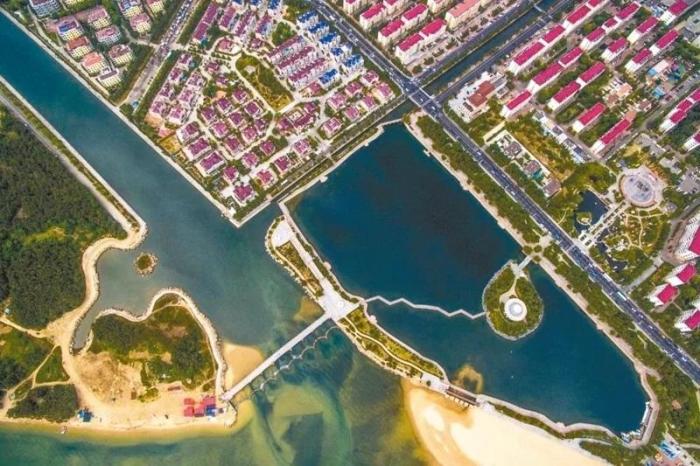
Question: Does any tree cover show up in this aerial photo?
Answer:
Yes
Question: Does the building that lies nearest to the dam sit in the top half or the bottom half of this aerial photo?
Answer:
bottom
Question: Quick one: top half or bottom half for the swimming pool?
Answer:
bottom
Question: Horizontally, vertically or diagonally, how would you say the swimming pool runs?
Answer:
diagonally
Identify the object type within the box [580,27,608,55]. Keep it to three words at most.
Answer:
building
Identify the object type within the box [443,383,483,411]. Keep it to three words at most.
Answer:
dam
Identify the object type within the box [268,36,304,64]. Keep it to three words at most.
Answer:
house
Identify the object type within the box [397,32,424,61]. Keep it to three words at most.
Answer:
building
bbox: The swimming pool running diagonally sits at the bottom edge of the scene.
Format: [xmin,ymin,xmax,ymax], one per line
[664,435,690,462]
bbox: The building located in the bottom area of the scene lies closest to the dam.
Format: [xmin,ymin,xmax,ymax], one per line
[502,298,526,321]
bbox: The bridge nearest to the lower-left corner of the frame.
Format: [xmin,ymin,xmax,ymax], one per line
[225,312,332,398]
